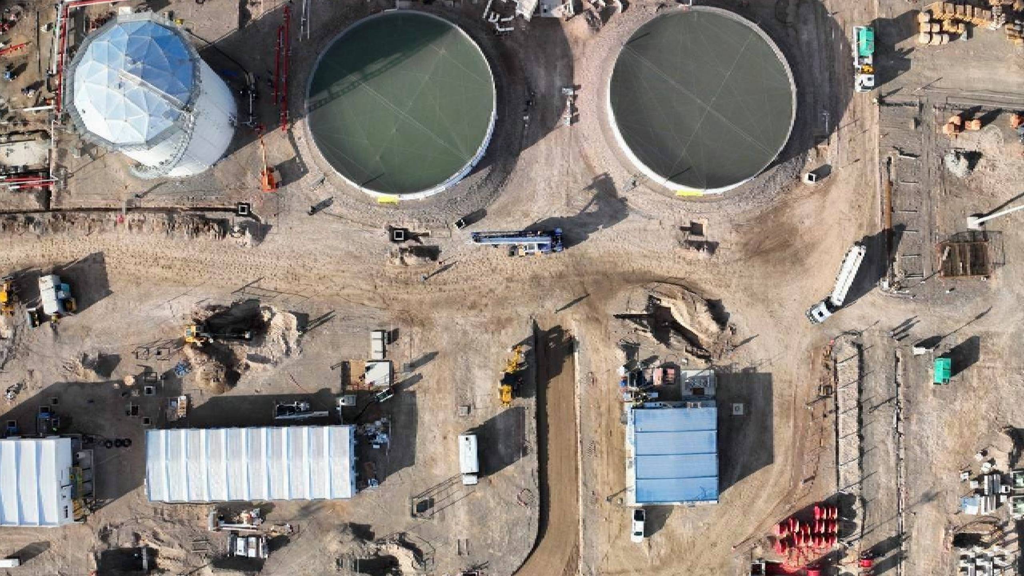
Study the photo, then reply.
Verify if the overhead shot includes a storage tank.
Yes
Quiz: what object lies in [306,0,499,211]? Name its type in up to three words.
storage tank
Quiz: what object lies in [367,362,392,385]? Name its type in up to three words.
building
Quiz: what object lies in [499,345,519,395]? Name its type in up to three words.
work vehicle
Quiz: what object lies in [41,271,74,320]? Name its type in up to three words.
truck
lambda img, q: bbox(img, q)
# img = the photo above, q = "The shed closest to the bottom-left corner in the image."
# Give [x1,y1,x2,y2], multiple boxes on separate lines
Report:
[0,433,75,528]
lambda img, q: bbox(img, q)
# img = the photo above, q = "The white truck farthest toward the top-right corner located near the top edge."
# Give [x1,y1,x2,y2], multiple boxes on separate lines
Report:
[853,23,877,96]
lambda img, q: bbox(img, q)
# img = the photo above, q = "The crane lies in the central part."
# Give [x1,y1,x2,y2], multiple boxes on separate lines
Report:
[470,223,564,262]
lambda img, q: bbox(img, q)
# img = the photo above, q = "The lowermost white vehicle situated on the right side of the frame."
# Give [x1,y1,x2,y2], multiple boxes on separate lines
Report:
[632,509,646,542]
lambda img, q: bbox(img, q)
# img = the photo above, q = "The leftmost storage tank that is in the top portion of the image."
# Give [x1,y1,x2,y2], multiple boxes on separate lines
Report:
[59,11,239,173]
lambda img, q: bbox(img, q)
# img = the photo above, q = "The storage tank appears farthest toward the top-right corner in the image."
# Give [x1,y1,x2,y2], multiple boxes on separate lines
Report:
[602,0,798,204]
